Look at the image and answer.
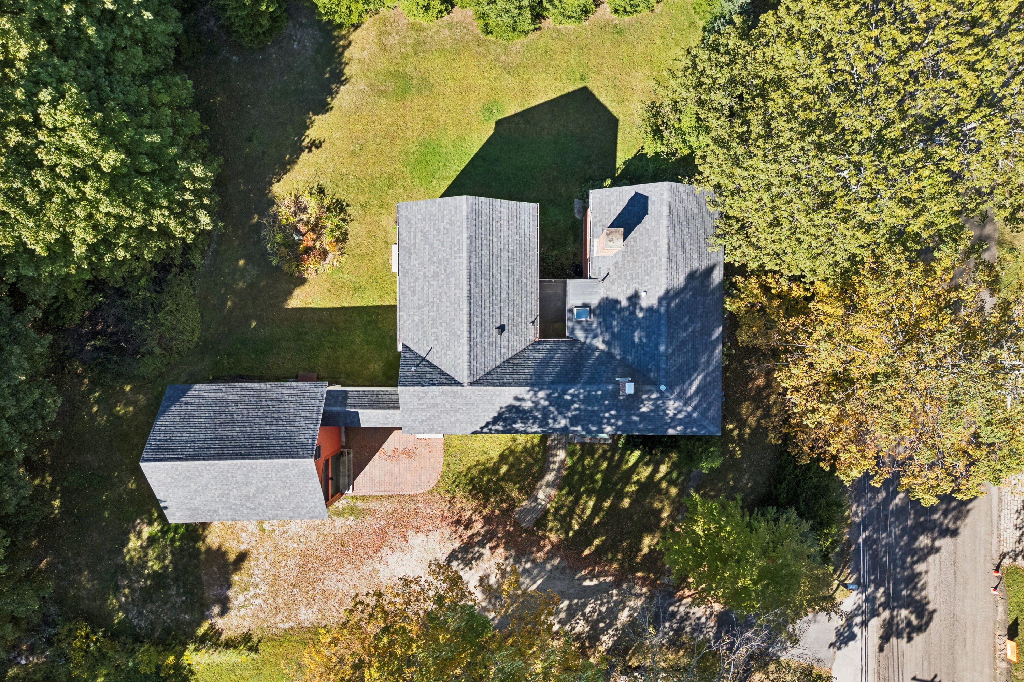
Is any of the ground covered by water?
No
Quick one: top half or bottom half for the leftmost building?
bottom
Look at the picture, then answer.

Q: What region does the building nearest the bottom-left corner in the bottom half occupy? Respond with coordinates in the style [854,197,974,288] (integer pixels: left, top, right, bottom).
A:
[142,381,343,524]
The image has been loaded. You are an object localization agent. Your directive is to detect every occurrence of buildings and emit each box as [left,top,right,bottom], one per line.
[142,381,343,524]
[394,182,722,436]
